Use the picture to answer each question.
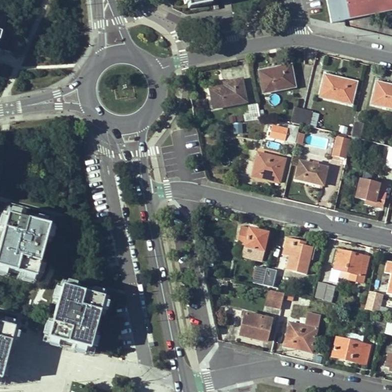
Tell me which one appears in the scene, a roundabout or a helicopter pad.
roundabout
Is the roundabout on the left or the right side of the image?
left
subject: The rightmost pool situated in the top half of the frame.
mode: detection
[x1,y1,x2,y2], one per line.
[305,134,328,150]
